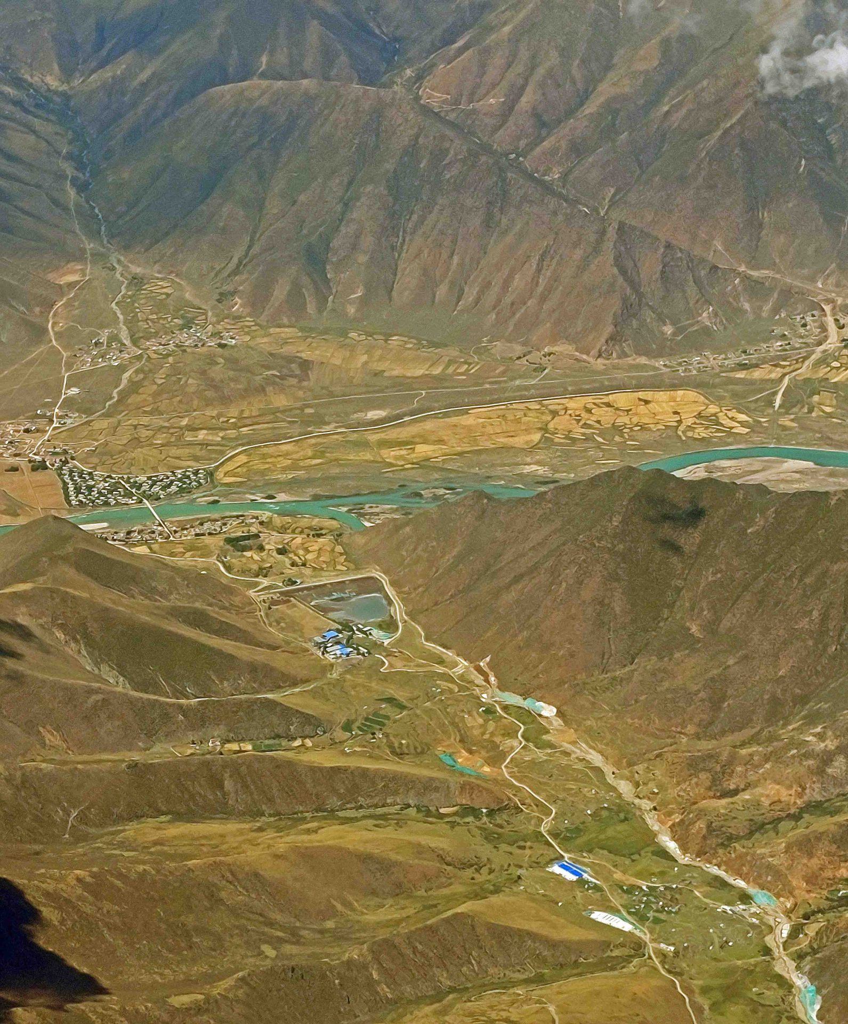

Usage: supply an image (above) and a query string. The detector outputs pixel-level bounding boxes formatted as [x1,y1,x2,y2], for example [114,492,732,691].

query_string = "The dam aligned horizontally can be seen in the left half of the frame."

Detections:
[255,572,373,595]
